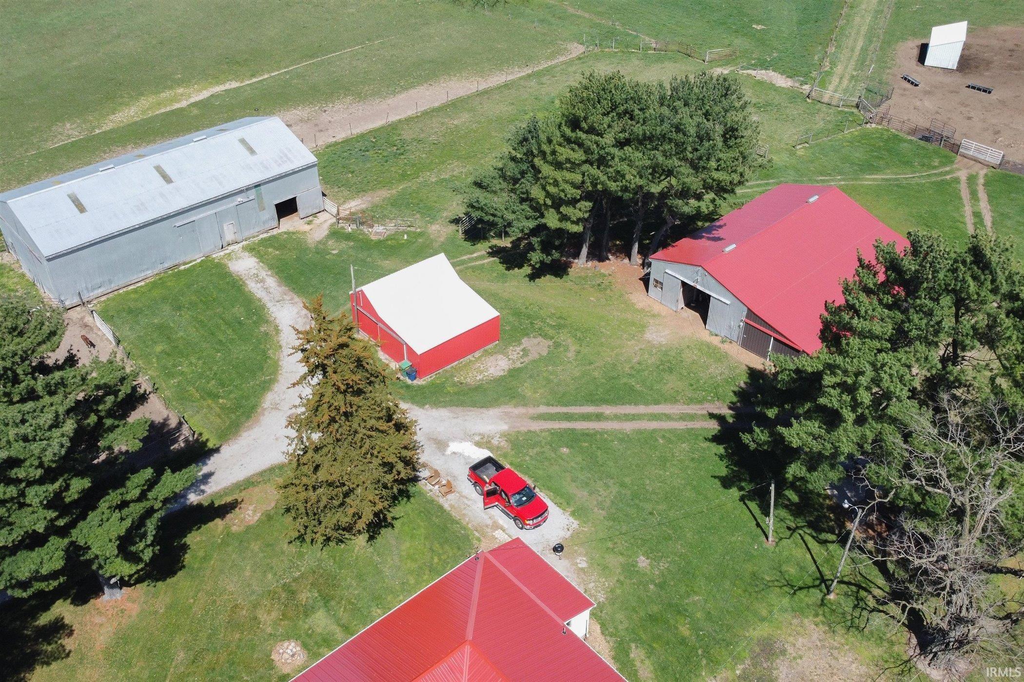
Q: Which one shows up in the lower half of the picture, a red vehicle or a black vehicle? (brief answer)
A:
red vehicle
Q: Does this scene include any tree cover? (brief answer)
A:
Yes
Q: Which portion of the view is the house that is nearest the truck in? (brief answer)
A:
bottom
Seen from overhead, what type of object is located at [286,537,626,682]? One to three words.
house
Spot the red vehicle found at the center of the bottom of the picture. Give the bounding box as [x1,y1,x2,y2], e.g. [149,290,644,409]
[468,457,555,535]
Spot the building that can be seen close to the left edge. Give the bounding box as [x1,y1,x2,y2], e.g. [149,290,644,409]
[0,116,324,309]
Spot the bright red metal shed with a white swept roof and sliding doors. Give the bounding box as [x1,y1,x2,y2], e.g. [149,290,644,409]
[349,253,500,379]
